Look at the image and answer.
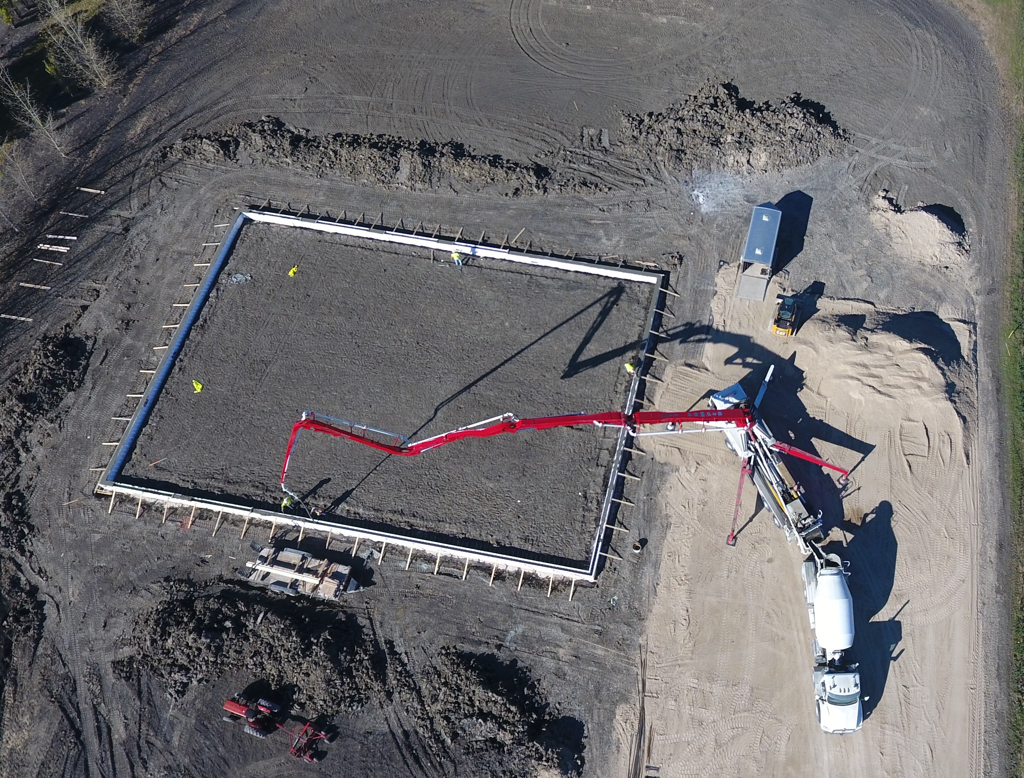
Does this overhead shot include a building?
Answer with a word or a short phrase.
No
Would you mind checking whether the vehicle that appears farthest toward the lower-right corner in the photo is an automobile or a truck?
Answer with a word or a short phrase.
truck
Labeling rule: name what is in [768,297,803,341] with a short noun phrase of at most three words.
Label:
work vehicle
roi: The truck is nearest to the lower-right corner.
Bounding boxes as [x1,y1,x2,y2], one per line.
[801,540,868,741]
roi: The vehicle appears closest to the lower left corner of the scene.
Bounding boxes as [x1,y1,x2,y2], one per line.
[215,688,286,745]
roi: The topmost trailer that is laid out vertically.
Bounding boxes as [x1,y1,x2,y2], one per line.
[738,202,782,302]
